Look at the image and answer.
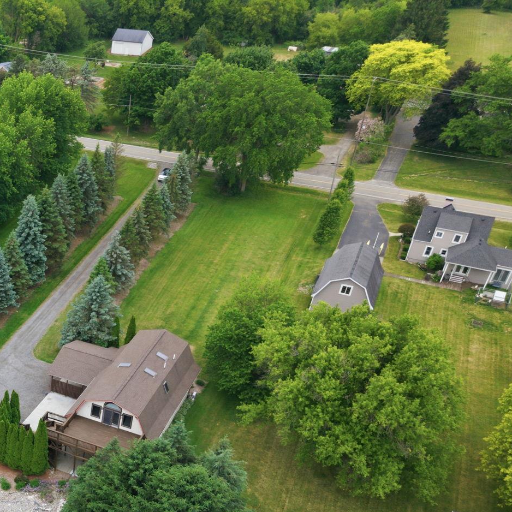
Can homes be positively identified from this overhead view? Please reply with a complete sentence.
Yes, there's a home here.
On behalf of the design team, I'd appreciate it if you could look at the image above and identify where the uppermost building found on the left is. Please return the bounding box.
[110,27,156,56]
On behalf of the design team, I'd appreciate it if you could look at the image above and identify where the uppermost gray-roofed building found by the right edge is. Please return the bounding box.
[406,191,512,289]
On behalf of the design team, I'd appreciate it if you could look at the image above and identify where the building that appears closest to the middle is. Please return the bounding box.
[311,242,388,312]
